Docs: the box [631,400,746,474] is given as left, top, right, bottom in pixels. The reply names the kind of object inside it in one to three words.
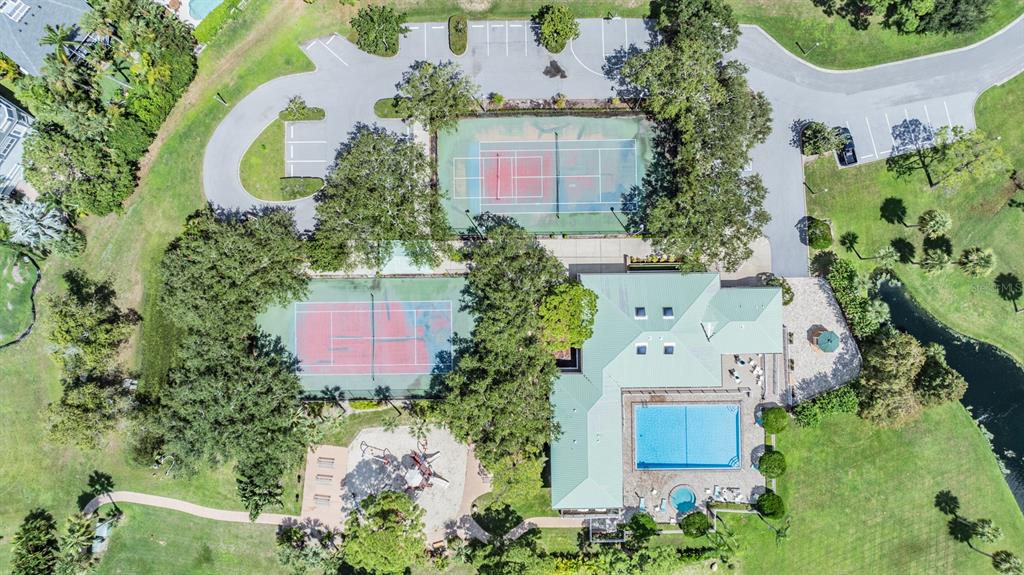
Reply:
swimming pool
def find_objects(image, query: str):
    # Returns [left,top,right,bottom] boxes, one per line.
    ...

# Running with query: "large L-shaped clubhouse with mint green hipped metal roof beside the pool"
[552,273,782,519]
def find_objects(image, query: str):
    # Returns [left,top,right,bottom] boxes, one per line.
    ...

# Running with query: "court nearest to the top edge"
[572,19,652,78]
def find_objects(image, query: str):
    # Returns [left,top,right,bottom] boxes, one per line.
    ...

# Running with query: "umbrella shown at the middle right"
[817,330,839,352]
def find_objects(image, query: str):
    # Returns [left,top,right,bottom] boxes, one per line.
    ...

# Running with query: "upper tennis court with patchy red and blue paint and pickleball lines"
[437,115,655,234]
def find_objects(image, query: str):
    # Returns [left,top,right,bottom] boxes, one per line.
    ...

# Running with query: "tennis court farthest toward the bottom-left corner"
[257,277,473,400]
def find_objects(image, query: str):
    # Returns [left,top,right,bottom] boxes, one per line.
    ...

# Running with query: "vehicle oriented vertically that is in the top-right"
[839,127,862,165]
